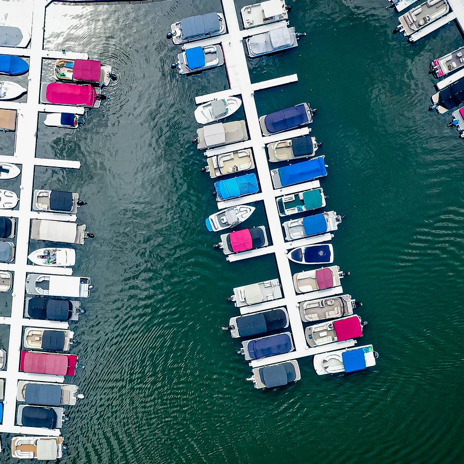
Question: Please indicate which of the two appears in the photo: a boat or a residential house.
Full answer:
Visible in the photo is a boat.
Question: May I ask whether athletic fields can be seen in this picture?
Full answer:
No, no athletic field is visible in the view.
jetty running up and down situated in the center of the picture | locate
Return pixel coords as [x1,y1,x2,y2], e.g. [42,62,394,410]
[181,0,358,369]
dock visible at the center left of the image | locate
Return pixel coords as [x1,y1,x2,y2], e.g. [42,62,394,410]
[0,2,90,437]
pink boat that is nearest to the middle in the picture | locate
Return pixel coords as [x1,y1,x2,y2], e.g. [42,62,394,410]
[214,223,274,254]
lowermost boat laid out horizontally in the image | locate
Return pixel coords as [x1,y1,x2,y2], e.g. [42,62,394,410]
[10,434,72,461]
